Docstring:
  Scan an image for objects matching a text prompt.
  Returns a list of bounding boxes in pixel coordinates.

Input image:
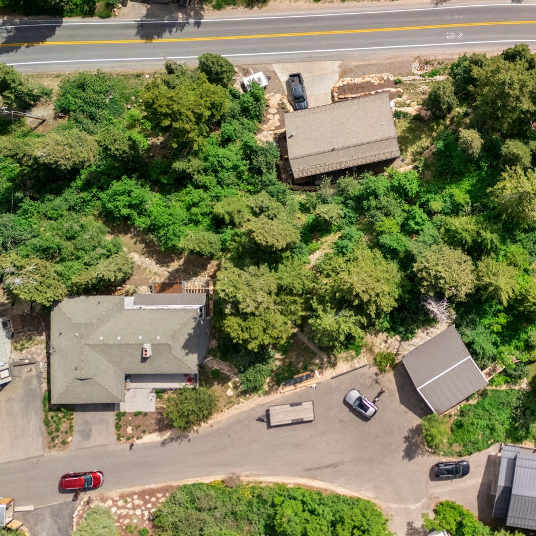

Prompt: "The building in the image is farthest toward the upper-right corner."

[285,94,401,179]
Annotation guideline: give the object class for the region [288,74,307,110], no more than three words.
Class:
vehicle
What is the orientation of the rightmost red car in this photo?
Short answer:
horizontally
